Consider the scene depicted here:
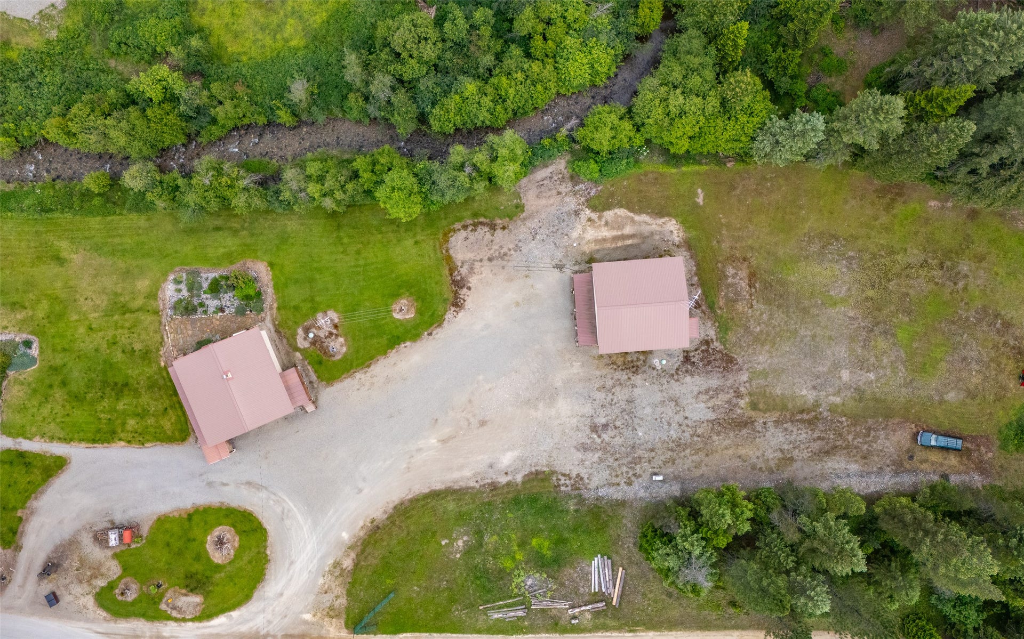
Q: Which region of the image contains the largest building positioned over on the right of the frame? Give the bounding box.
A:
[571,257,700,354]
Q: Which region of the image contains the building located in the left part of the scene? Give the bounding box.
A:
[169,326,318,465]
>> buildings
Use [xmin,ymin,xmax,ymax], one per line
[169,326,318,465]
[571,257,700,354]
